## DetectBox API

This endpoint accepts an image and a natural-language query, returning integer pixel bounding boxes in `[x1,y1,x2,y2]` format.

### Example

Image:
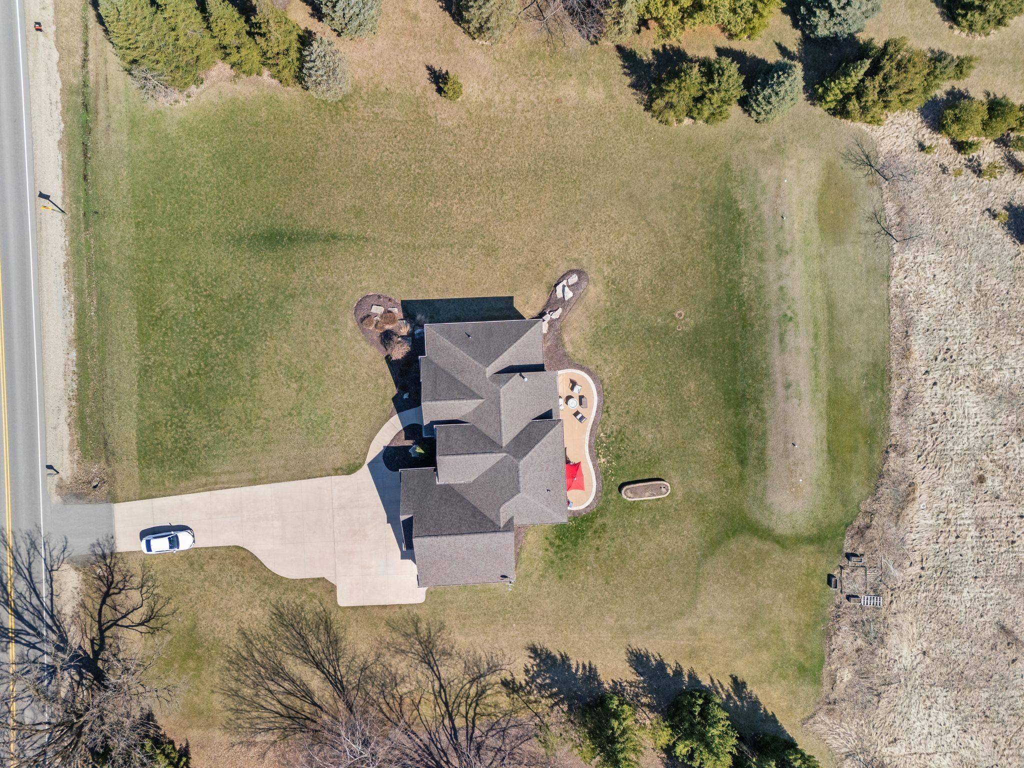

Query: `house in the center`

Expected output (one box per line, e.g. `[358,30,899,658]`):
[399,318,570,589]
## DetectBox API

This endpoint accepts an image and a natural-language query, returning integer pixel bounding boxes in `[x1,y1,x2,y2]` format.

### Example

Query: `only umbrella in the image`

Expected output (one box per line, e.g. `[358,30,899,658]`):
[567,461,586,491]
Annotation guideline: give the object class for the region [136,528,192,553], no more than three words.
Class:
car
